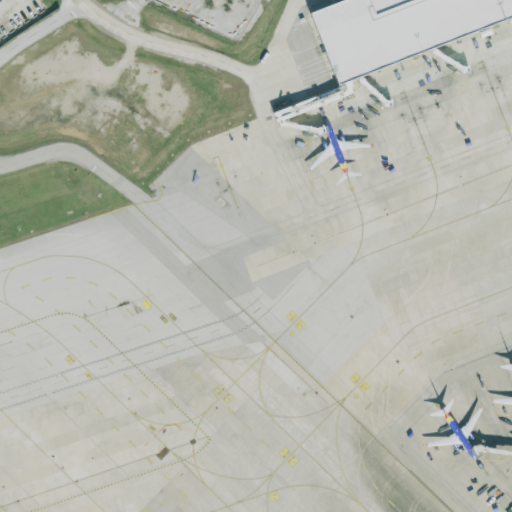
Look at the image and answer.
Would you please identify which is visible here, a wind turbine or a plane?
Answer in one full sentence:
The one in the frame is a plane.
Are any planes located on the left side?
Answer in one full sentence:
No, looking on the left side, there is no plane.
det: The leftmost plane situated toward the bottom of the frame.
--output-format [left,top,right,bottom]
[426,400,482,458]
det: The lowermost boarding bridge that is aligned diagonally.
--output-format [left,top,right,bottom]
[360,78,396,108]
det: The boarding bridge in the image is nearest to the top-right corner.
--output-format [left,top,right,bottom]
[432,50,472,74]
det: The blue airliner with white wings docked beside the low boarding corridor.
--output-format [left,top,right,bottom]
[310,120,373,184]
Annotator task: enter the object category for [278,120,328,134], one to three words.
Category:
jet bridge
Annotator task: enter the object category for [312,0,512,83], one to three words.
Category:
building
